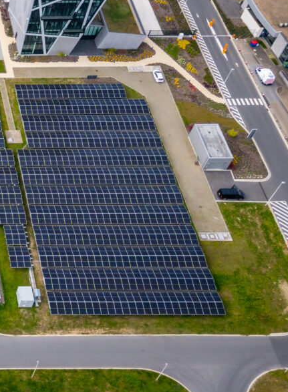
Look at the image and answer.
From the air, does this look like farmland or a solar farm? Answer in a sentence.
The area seen from above is a solar farm.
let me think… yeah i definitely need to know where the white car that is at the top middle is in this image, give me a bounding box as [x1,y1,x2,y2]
[150,69,166,84]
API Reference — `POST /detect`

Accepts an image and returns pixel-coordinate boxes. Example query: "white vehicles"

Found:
[150,69,166,84]
[254,67,278,87]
